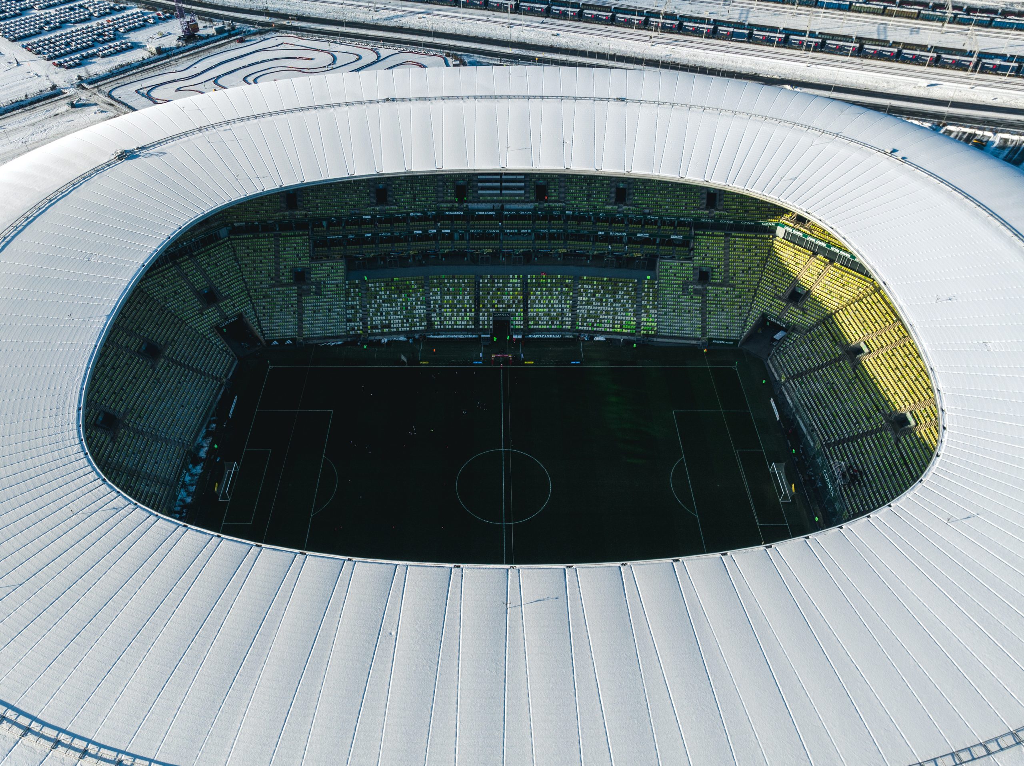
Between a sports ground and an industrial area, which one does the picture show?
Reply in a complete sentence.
This looks like a sports ground.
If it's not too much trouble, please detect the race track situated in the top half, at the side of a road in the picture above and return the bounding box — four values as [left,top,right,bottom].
[107,35,451,110]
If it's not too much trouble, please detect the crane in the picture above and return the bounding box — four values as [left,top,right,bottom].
[167,0,204,43]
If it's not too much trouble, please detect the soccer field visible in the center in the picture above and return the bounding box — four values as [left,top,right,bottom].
[168,316,841,565]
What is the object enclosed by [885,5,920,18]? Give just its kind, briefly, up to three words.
rail car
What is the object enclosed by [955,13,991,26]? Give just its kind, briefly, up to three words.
rail car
